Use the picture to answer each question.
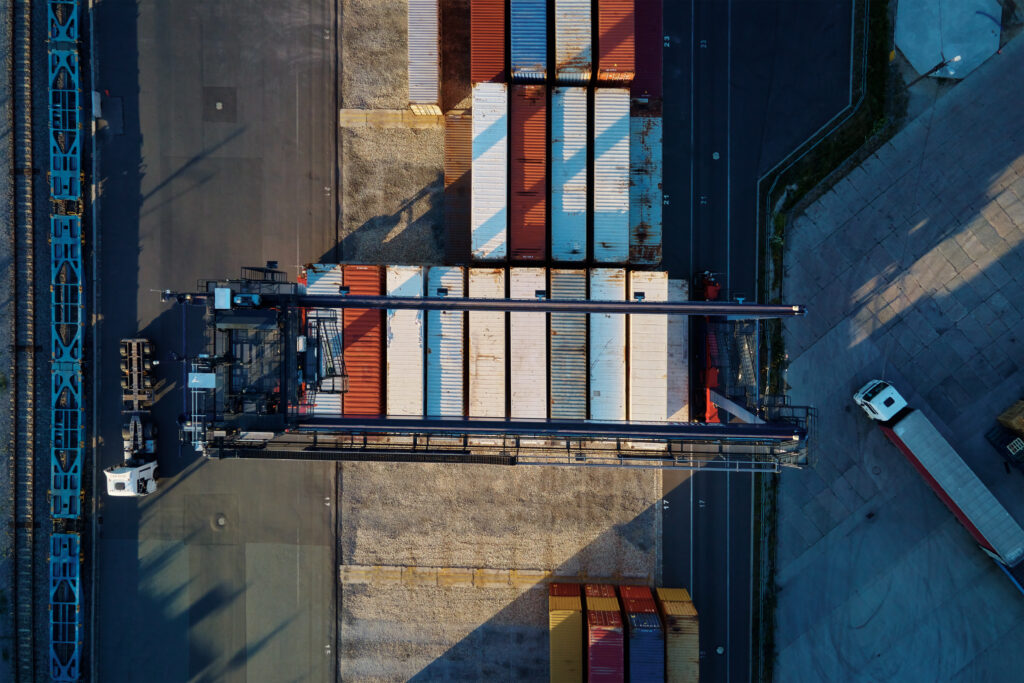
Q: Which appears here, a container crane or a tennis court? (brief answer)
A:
container crane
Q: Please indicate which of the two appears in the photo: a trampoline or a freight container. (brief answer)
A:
freight container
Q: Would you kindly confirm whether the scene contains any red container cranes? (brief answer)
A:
No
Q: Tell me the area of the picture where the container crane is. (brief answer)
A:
center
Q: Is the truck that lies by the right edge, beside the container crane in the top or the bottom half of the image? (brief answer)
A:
bottom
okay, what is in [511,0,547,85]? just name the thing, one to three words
shipping container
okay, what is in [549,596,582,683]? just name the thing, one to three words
shipping container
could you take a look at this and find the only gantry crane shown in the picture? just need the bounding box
[158,262,818,471]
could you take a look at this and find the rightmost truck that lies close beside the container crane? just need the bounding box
[850,367,1024,586]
